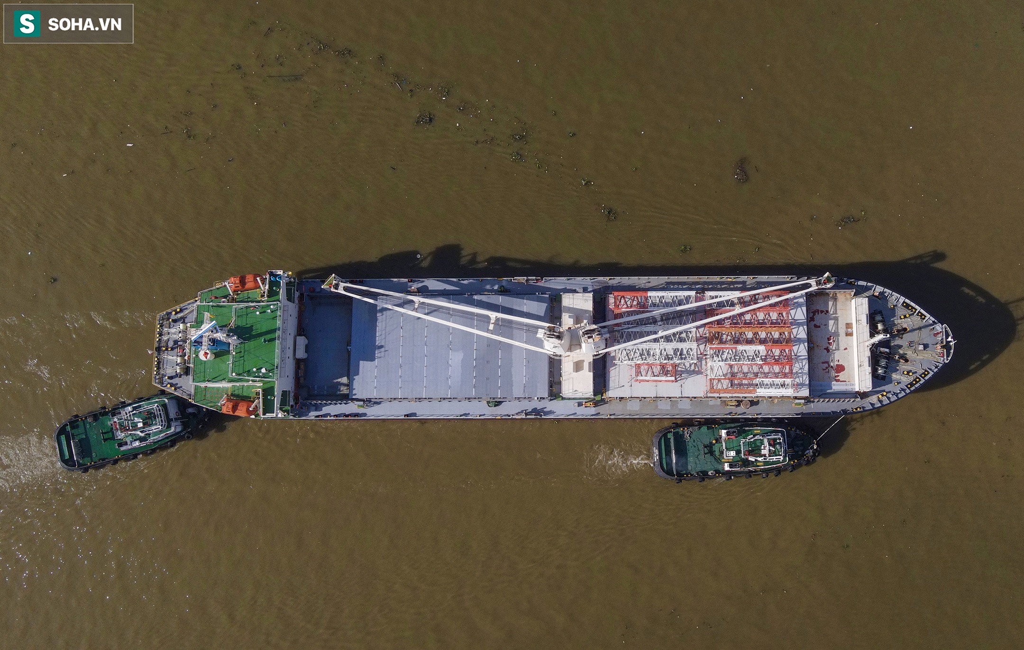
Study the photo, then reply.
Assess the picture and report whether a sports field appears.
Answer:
No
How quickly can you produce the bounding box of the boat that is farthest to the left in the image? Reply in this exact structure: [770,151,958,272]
[52,392,216,470]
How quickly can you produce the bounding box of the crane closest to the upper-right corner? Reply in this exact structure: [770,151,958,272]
[575,270,837,360]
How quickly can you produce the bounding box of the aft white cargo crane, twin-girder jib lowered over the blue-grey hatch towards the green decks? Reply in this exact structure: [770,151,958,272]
[324,272,578,360]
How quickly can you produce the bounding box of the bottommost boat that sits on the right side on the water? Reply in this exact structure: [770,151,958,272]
[650,419,826,483]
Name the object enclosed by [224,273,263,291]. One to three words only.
boat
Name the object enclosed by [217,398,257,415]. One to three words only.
boat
